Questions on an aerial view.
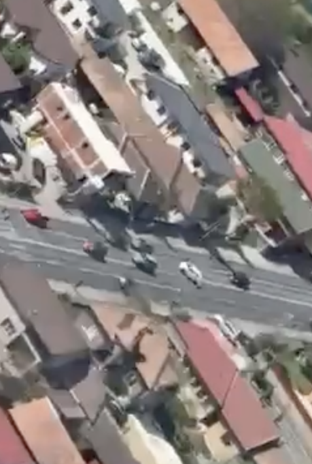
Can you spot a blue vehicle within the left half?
No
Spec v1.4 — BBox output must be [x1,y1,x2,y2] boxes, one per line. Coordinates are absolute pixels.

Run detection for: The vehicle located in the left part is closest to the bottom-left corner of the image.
[81,243,103,258]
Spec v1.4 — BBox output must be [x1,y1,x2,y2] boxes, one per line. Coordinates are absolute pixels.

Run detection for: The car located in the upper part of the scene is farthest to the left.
[0,155,18,170]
